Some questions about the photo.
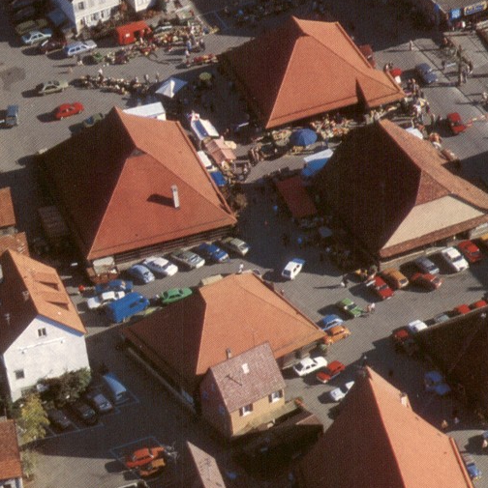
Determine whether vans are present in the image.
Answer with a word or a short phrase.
Yes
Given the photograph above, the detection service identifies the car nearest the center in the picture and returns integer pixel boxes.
[217,231,253,258]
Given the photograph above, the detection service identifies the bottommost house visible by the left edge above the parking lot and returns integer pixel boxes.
[0,248,88,398]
